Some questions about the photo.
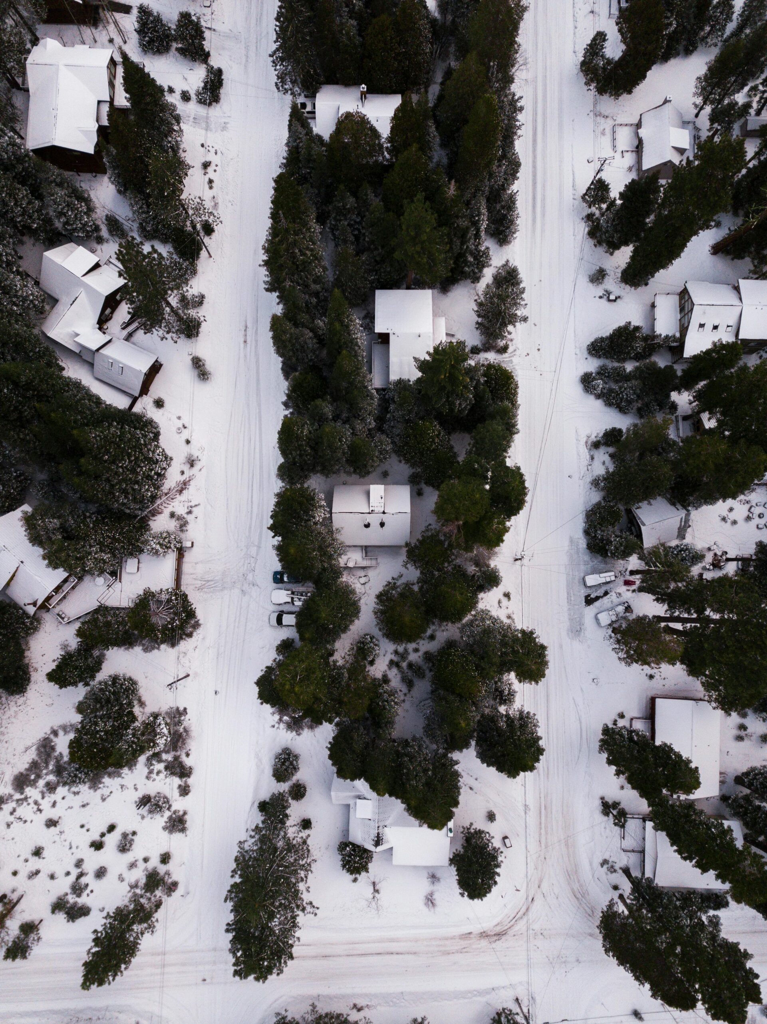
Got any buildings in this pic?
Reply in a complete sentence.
Yes, a building can be made out from above.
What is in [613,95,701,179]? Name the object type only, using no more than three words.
house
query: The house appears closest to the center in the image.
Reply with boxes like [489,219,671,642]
[332,485,411,571]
